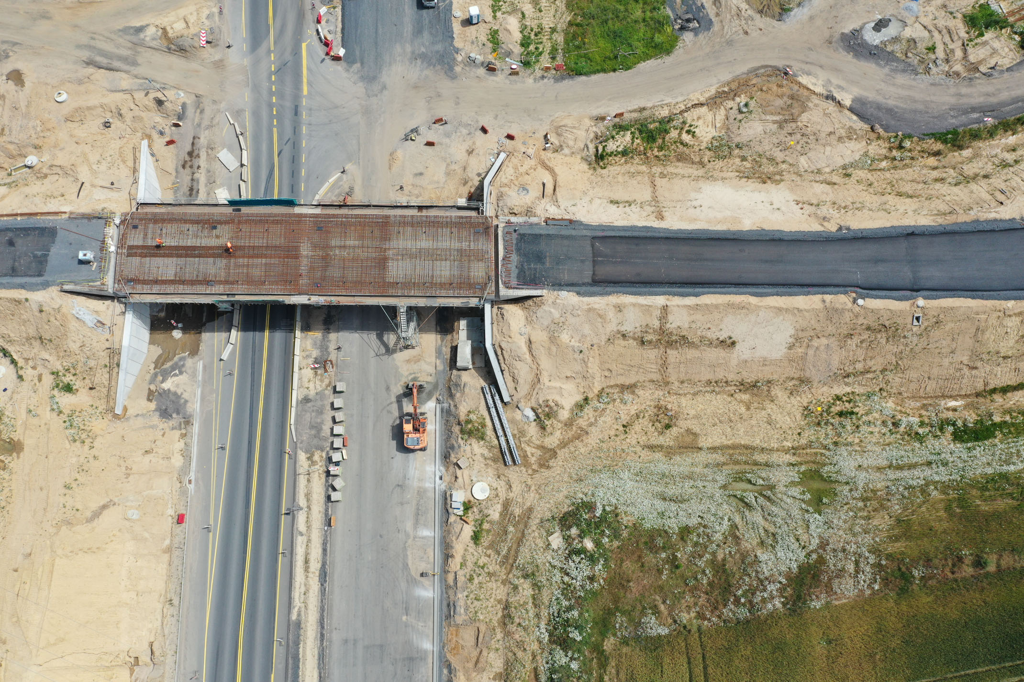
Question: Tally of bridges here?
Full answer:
The photo contains exactly 1 bridge.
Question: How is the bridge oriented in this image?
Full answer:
In this picture, the bridge is oriented from left to right.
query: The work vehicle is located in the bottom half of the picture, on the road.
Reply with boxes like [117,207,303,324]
[399,382,427,450]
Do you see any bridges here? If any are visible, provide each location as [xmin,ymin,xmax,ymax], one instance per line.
[46,195,576,316]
